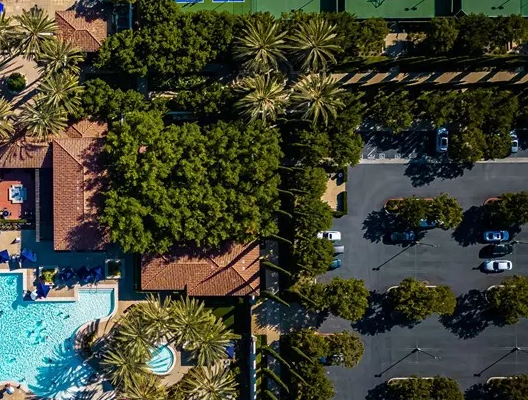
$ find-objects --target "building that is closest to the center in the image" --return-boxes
[141,239,260,297]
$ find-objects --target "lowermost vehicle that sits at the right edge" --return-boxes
[486,259,514,273]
